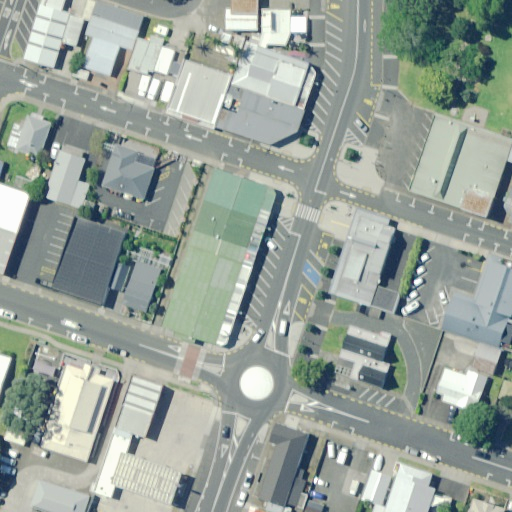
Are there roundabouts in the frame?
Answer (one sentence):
Yes, there's a roundabout down there.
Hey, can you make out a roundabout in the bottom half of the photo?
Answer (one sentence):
Yes, a roundabout appears in the bottom half of the photo.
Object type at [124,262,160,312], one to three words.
building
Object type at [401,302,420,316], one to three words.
vehicle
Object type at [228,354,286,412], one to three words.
roundabout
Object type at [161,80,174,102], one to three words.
vehicle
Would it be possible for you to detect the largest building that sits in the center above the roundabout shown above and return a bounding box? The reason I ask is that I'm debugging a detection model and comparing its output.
[162,168,276,347]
